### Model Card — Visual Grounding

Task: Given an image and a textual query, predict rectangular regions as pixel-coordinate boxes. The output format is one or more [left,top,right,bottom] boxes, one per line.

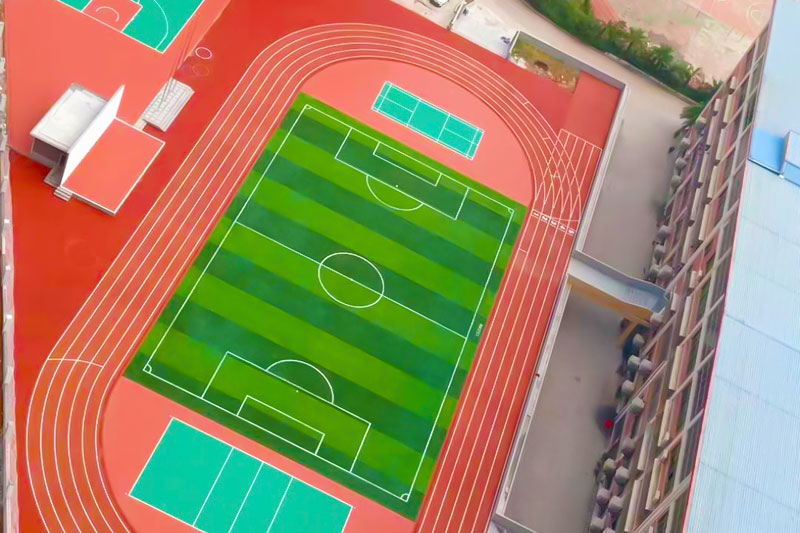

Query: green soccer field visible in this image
[123,91,527,521]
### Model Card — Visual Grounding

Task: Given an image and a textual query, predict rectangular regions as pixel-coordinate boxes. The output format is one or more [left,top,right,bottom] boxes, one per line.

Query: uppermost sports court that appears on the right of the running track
[681,0,772,39]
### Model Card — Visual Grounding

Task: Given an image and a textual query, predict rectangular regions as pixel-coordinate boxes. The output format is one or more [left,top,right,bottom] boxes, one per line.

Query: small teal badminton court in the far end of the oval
[371,80,485,160]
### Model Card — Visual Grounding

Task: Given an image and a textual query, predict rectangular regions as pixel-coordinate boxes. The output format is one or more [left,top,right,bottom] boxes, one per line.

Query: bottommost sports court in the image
[125,413,357,533]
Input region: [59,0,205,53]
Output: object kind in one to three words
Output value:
basketball court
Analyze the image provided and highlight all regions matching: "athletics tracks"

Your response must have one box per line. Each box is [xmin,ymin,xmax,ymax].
[26,23,602,533]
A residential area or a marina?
residential area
